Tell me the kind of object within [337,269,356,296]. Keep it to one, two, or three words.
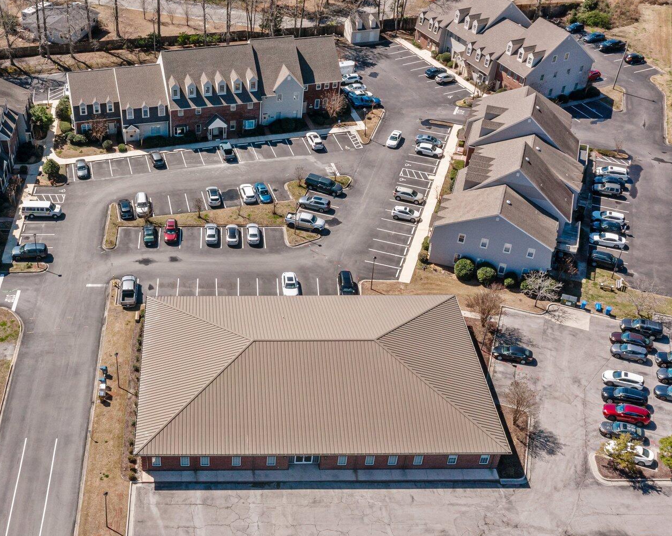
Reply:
car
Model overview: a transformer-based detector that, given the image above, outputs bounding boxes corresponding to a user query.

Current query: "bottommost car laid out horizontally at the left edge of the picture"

[12,242,48,259]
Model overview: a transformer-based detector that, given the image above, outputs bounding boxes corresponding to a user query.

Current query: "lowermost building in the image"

[133,295,513,469]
